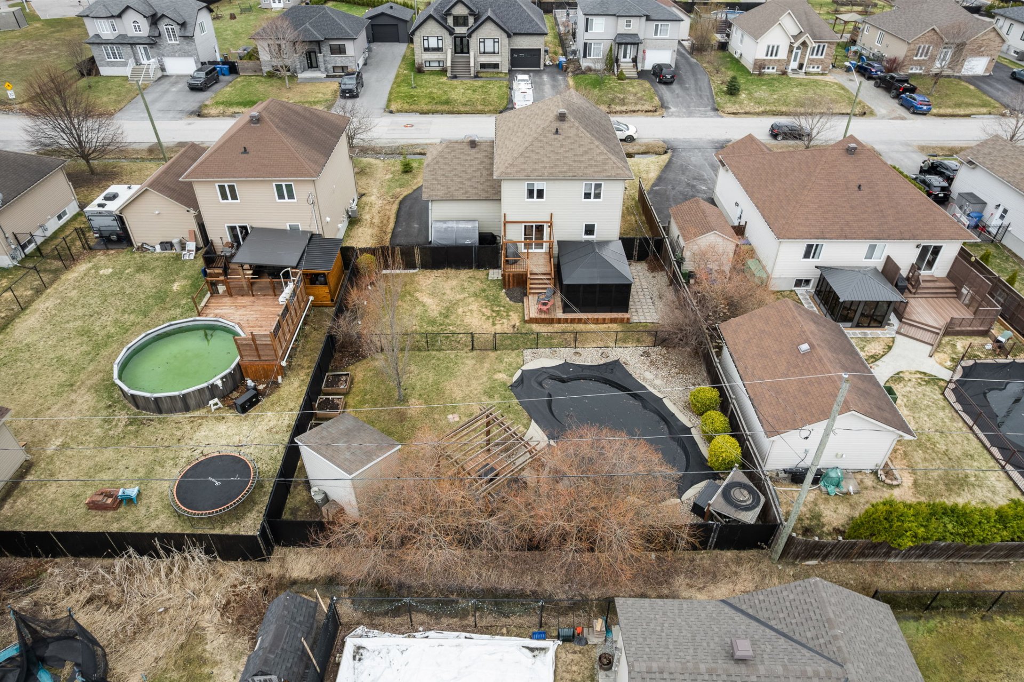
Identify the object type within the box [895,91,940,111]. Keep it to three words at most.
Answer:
car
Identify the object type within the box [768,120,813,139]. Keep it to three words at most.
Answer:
car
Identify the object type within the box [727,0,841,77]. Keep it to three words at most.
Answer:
house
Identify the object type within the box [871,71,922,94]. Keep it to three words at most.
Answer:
truck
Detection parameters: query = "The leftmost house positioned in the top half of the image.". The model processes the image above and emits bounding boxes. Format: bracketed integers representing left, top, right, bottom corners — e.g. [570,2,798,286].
[0,147,75,266]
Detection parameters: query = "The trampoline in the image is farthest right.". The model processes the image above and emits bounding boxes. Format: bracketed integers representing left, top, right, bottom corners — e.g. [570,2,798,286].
[171,453,263,528]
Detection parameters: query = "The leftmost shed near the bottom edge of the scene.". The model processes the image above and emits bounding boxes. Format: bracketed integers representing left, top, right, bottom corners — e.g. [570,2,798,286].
[241,586,328,682]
